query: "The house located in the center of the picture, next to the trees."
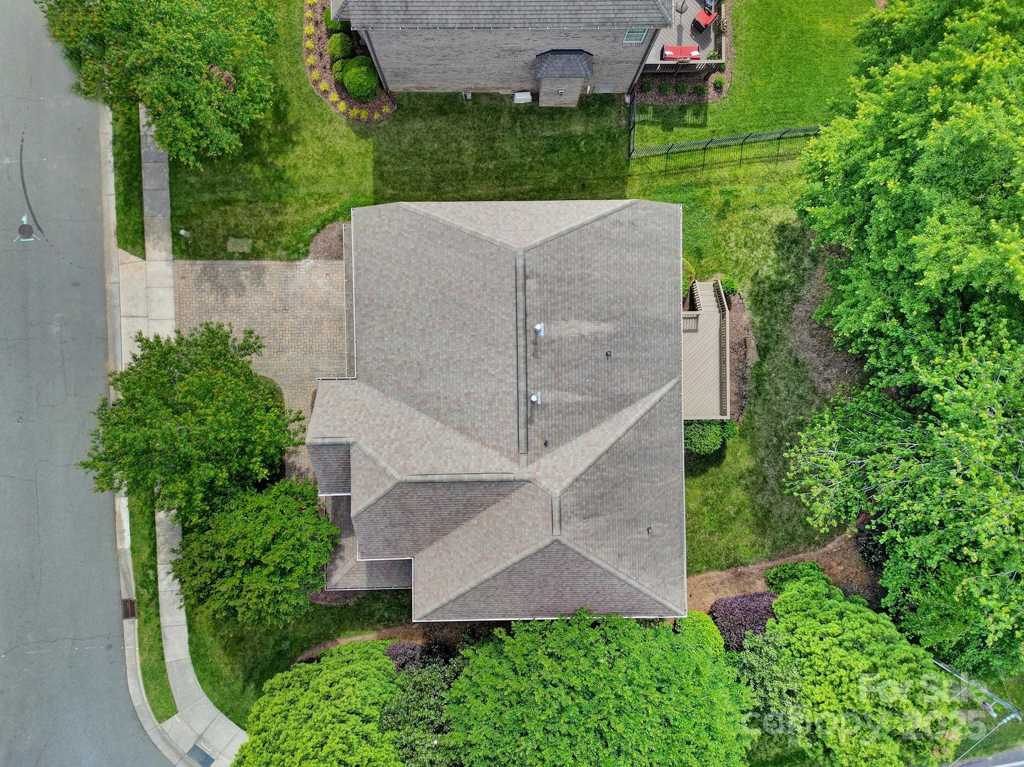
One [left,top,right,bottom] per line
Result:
[307,198,689,623]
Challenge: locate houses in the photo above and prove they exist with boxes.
[307,198,689,623]
[329,0,676,106]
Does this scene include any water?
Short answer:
No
